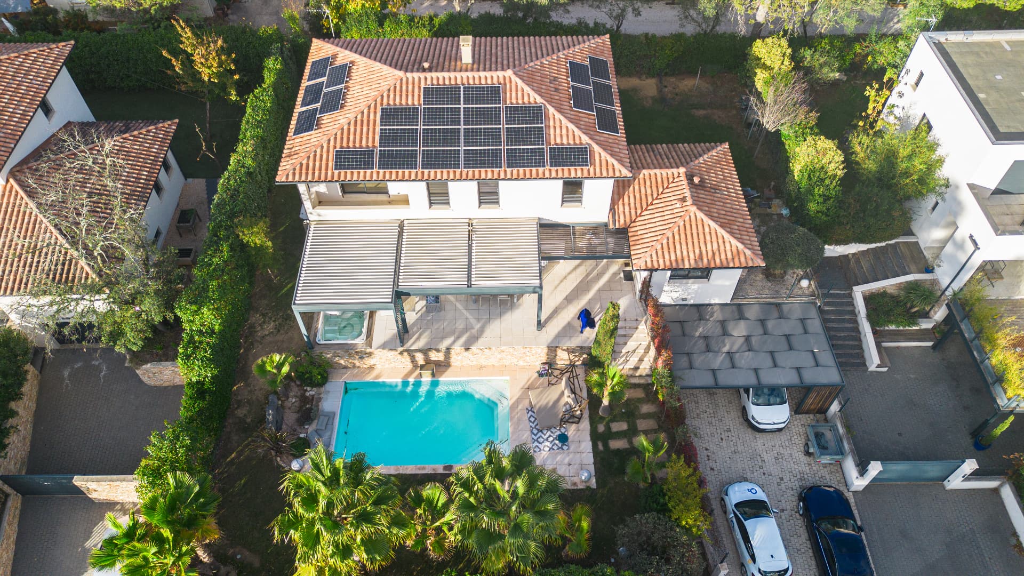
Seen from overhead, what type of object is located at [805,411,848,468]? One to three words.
trailer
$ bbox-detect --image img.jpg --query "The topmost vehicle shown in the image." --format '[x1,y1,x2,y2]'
[740,388,802,434]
